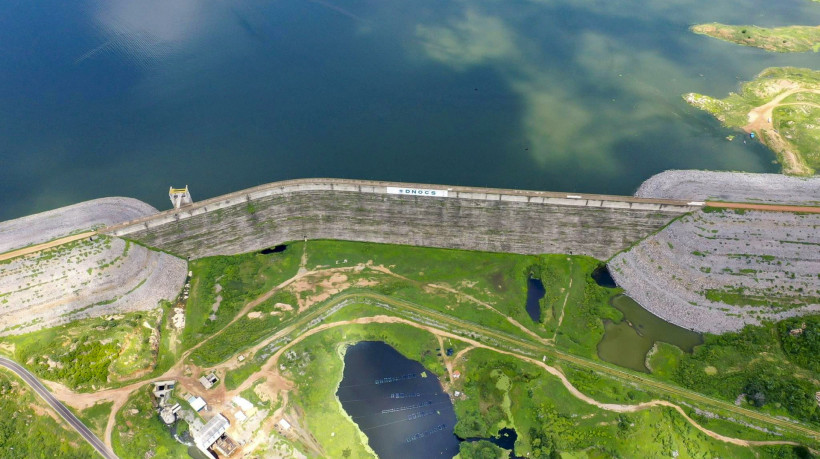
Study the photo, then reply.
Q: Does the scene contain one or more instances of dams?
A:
Yes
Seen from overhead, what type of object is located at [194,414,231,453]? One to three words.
building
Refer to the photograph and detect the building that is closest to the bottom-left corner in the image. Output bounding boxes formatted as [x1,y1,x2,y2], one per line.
[154,380,176,405]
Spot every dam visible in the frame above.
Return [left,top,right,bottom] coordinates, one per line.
[93,177,703,273]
